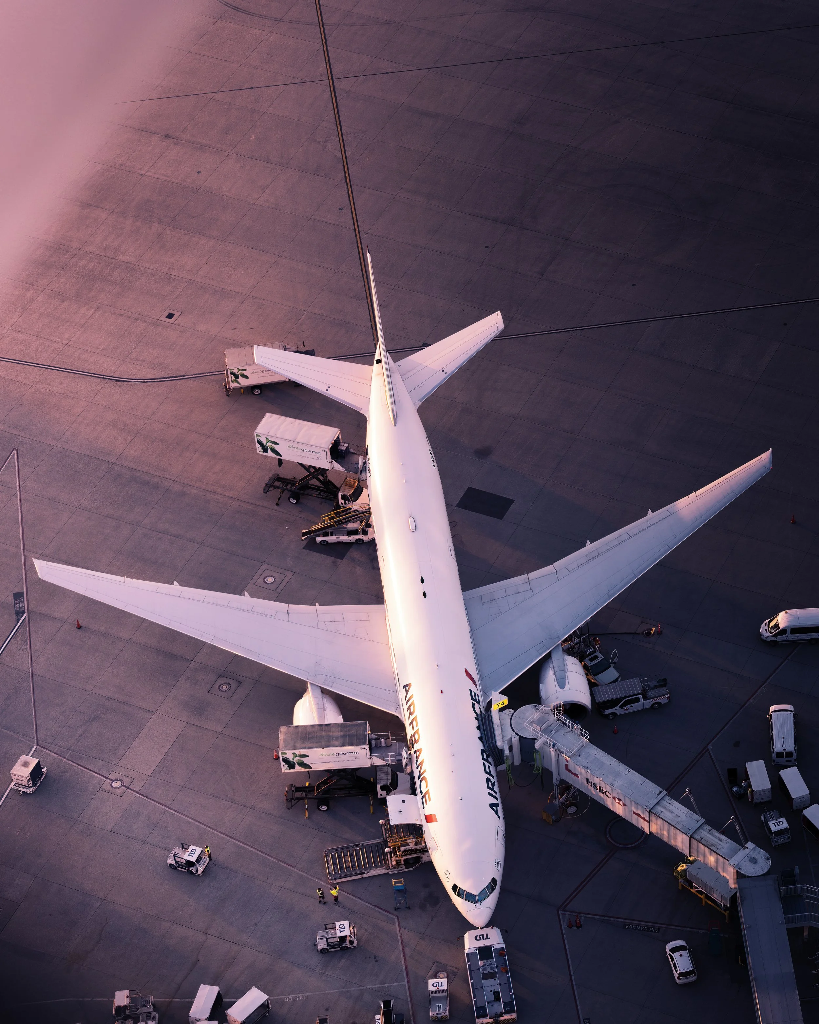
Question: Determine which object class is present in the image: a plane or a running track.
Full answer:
The one in the frame is a plane.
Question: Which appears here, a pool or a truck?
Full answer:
I can see a truck in this picture.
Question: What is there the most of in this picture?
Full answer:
The scene is dominated by paved ground.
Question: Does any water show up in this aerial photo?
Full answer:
No, there is no water in the image.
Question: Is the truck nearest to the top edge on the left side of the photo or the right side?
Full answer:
The truck nearest to the top edge is on the left side of the image.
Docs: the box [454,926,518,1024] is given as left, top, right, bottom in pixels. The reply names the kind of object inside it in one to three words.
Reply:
work vehicle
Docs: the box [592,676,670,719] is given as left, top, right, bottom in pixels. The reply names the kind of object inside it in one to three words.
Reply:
truck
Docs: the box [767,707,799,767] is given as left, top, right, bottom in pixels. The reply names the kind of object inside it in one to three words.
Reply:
van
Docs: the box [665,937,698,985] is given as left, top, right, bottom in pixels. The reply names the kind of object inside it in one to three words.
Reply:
car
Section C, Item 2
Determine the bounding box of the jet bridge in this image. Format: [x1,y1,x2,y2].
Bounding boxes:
[478,693,765,928]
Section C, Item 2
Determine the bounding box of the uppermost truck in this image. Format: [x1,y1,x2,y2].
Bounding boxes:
[221,335,323,395]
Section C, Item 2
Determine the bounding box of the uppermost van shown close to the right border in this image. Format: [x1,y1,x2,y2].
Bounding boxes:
[760,608,819,648]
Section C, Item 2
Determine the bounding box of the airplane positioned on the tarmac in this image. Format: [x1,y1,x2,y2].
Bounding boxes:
[34,245,773,931]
